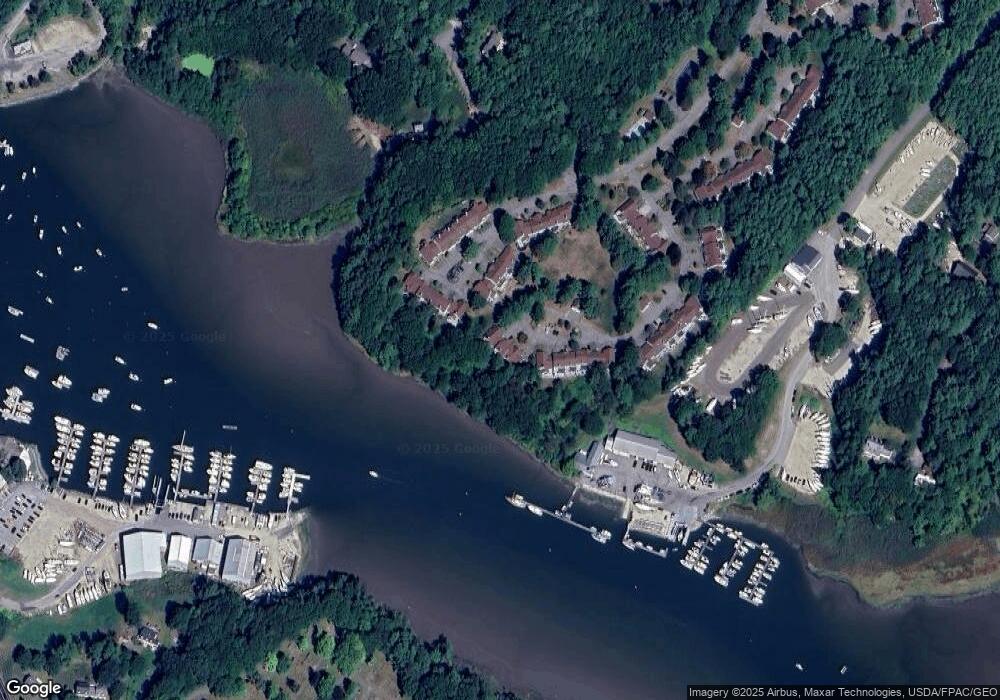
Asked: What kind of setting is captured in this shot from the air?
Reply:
port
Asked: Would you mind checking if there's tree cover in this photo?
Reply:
Yes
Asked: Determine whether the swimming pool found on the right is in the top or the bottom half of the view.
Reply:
top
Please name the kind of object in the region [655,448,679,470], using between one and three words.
building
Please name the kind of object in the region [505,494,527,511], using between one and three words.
boat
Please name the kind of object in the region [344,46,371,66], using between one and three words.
house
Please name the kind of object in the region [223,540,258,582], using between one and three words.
shed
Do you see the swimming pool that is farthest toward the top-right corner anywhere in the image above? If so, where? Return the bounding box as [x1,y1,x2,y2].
[620,116,648,139]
